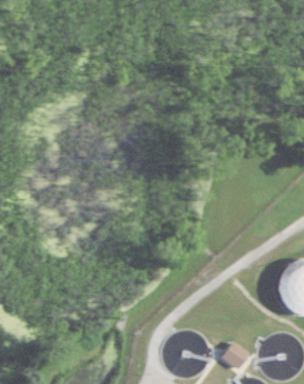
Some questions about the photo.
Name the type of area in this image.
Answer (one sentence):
It's an industrial area.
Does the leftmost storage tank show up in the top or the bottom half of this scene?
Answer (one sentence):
It is in the bottom half that the leftmost storage tank appears.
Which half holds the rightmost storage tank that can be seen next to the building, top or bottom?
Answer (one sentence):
Seen from above, the rightmost storage tank that can be seen next to the building lies in the bottom half of the view.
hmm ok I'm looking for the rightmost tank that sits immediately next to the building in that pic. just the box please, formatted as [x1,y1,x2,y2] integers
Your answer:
[254,332,304,382]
